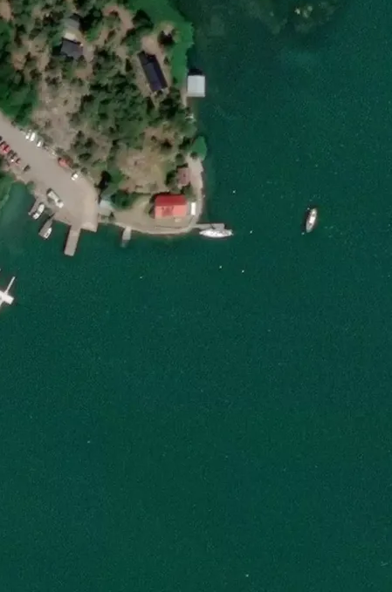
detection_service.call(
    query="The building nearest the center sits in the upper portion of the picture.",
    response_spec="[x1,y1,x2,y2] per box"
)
[156,195,187,219]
